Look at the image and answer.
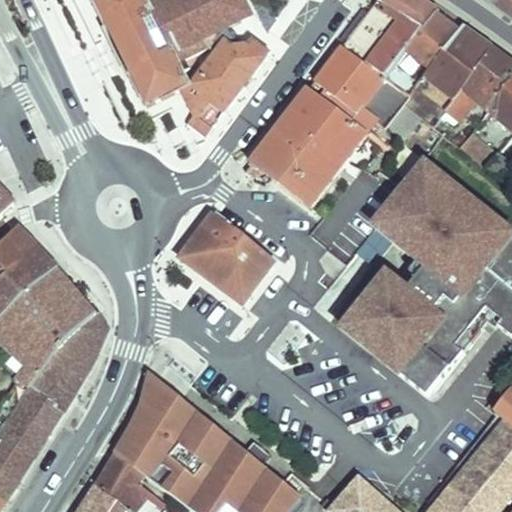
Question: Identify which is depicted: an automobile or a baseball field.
automobile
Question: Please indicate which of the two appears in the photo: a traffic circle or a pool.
traffic circle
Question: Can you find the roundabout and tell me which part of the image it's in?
left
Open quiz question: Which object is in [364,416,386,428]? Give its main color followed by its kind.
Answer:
white vehicle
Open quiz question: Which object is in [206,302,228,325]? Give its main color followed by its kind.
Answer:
white vehicle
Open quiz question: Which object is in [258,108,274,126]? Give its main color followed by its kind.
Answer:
white car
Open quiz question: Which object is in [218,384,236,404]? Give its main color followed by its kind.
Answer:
white car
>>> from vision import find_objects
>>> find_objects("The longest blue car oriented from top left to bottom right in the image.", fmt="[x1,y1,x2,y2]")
[456,424,477,441]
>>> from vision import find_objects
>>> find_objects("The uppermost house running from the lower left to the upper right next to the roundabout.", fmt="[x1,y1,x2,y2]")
[180,32,268,130]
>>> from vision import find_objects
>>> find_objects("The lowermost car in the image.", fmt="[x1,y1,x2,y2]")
[45,474,61,494]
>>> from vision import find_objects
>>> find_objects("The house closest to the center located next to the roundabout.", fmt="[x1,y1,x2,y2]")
[177,211,276,305]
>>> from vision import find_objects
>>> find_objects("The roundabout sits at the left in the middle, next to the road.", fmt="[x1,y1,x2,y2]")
[56,134,200,316]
